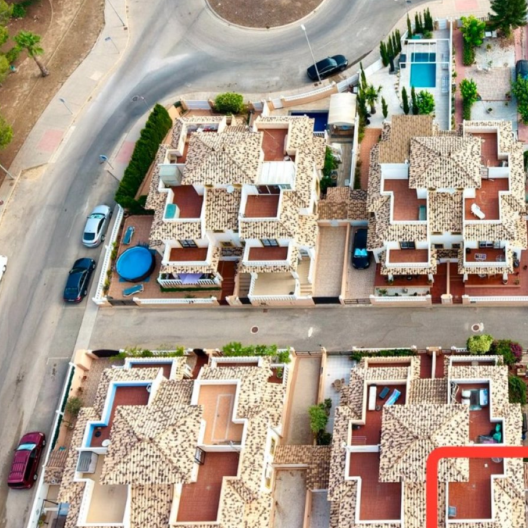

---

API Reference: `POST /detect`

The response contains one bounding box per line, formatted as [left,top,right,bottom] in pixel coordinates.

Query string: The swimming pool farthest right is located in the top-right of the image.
[406,49,440,90]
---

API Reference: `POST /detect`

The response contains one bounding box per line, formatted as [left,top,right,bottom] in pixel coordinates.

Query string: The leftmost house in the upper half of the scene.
[135,115,318,284]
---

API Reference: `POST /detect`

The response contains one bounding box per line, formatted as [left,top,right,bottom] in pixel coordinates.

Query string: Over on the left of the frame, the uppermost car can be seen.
[81,205,113,244]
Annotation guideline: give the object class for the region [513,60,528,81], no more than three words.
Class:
car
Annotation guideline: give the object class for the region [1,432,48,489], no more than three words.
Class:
car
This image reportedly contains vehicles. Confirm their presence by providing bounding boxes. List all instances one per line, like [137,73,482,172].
[61,258,96,301]
[348,230,373,270]
[1,432,48,489]
[81,205,113,244]
[307,54,349,80]
[513,60,528,81]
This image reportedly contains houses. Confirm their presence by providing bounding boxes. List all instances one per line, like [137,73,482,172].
[135,115,318,284]
[51,359,279,528]
[324,359,528,528]
[362,109,528,288]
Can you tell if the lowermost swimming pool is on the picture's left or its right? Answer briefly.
left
